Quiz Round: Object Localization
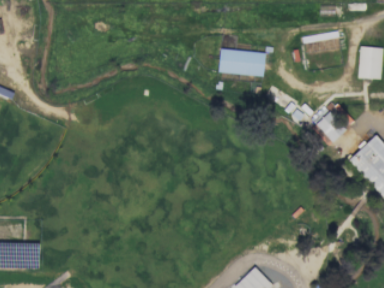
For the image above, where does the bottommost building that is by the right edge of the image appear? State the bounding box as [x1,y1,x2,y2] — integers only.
[350,135,384,201]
